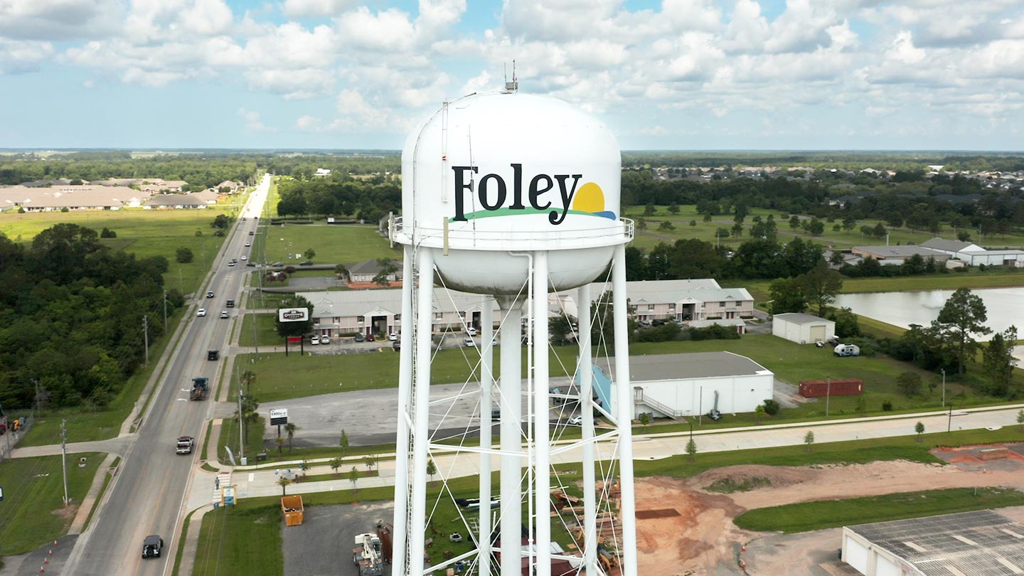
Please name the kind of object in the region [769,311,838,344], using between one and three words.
shed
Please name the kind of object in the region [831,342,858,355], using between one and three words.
vehicle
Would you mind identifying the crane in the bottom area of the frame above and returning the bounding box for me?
[352,530,387,576]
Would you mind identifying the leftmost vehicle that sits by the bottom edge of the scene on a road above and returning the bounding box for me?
[140,536,160,556]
